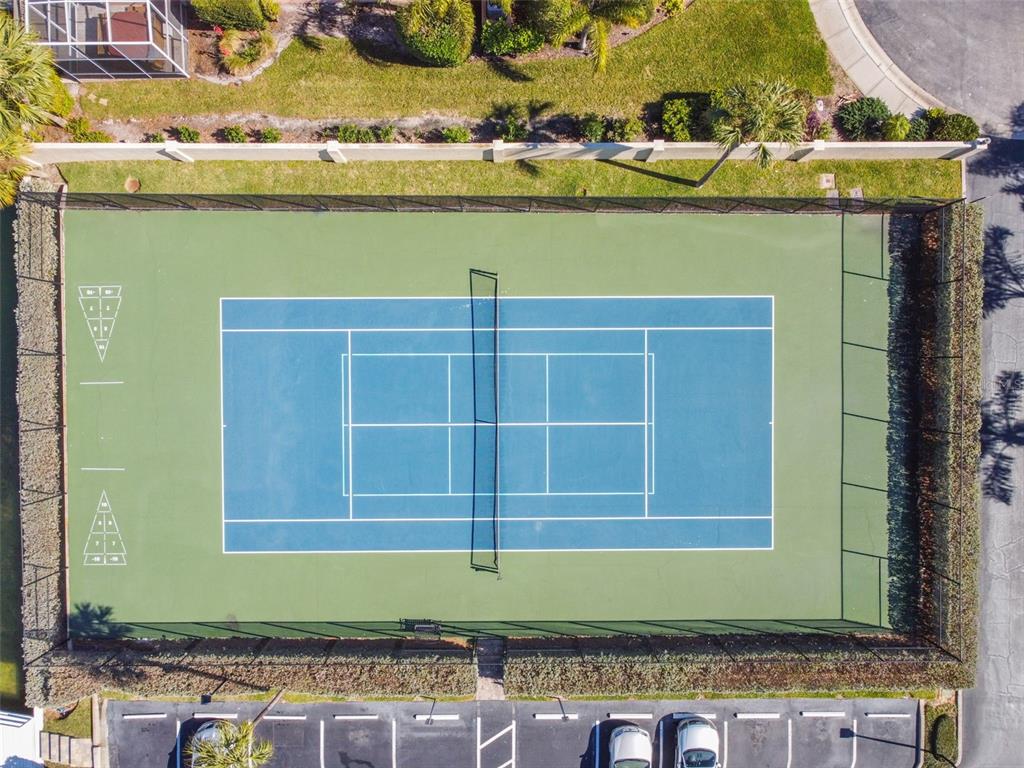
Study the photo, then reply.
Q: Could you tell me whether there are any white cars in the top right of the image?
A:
No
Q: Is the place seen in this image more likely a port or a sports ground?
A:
sports ground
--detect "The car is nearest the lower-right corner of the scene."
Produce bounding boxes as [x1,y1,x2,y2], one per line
[673,717,726,768]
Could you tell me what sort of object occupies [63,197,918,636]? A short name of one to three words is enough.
tennis court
